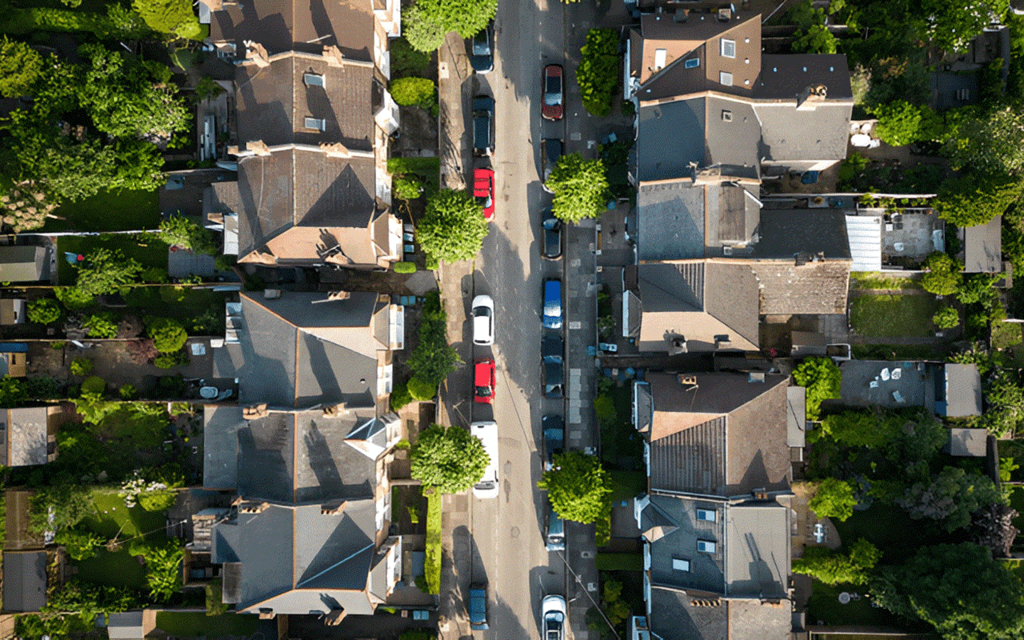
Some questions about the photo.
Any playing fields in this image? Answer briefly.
No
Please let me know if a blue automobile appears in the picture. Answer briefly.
Yes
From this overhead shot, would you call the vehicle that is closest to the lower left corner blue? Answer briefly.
Yes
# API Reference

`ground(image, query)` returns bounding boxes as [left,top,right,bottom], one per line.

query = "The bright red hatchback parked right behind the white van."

[471,359,498,403]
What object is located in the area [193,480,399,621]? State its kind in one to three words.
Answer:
house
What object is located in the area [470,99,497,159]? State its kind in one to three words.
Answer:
car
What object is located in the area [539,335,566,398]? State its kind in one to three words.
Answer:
car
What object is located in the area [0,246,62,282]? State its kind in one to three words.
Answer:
shed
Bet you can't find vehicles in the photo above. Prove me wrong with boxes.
[470,420,499,496]
[540,279,566,329]
[539,335,566,398]
[472,170,497,221]
[539,209,565,260]
[466,581,492,629]
[540,592,567,640]
[542,499,568,549]
[539,66,567,122]
[471,359,498,403]
[468,19,495,76]
[470,296,496,345]
[538,139,563,193]
[470,99,497,159]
